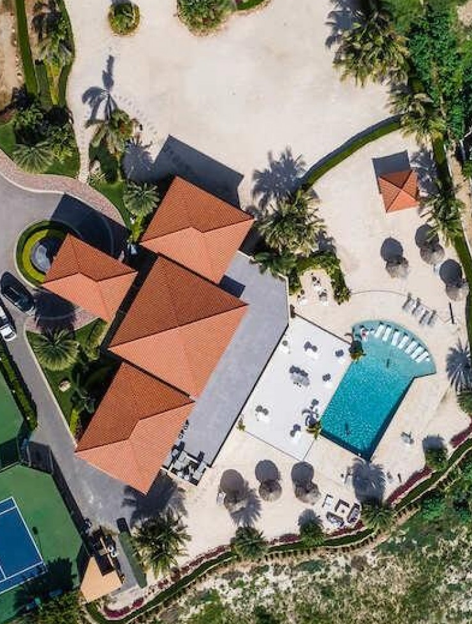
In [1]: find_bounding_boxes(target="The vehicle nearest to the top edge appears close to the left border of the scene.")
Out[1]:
[2,279,36,314]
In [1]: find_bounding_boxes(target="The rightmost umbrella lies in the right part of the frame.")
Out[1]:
[445,277,467,301]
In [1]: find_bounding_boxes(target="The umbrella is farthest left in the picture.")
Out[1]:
[223,489,244,512]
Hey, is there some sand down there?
Yes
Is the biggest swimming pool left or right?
right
